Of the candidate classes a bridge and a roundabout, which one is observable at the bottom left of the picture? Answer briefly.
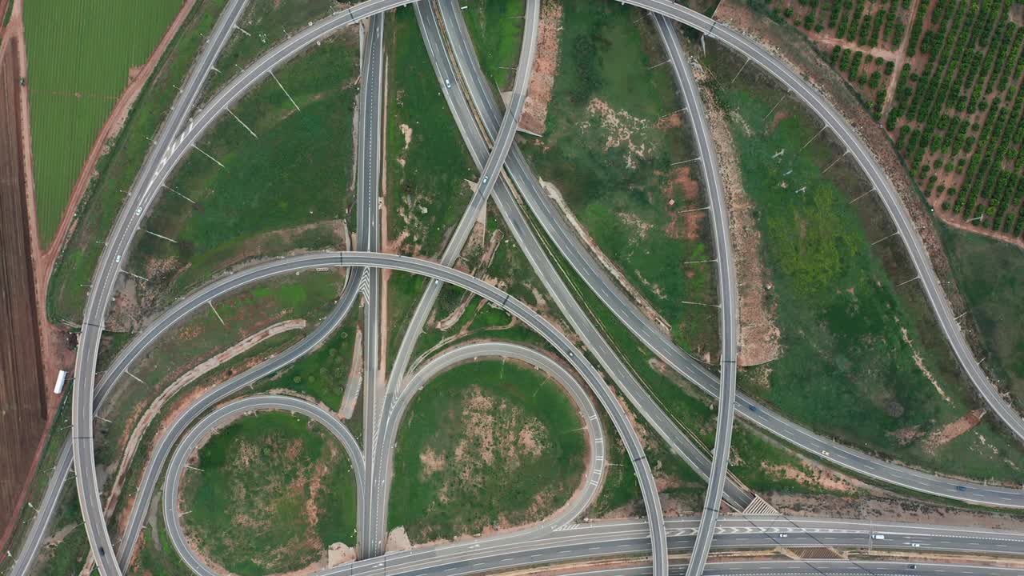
bridge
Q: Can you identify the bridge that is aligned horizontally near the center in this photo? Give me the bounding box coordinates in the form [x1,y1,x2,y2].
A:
[339,251,514,309]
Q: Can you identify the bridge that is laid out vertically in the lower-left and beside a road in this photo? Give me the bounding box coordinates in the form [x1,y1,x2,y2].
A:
[71,324,123,576]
